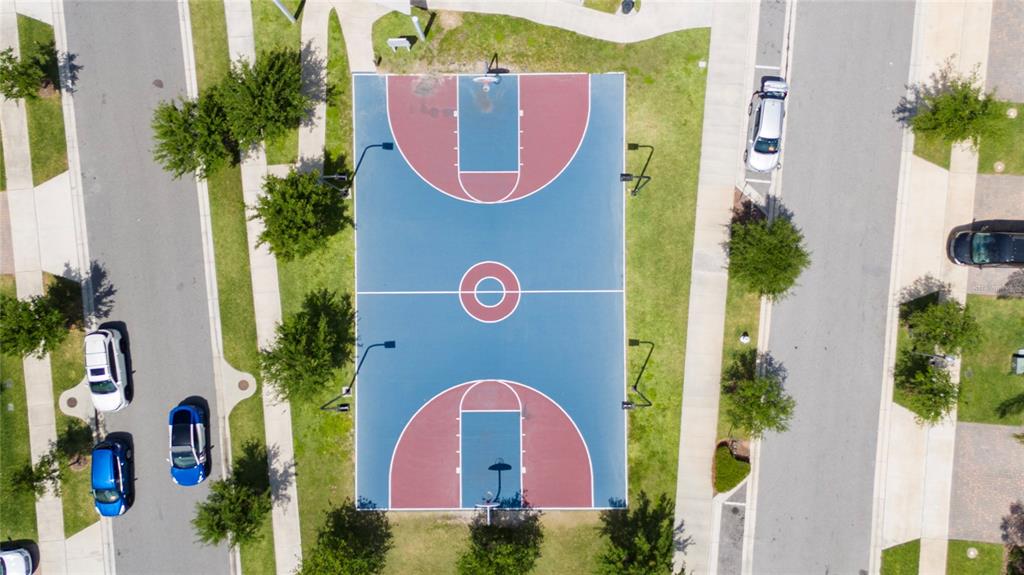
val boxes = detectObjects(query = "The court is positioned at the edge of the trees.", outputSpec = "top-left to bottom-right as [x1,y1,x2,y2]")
[353,72,628,512]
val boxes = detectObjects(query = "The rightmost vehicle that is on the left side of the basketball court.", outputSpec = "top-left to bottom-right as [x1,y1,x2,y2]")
[166,405,207,485]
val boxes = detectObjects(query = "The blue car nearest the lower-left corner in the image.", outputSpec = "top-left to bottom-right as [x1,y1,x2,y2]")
[90,441,132,516]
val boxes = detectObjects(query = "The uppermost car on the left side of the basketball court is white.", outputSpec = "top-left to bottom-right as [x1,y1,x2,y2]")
[84,329,131,411]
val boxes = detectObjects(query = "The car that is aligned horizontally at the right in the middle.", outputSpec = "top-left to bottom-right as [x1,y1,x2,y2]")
[948,231,1024,269]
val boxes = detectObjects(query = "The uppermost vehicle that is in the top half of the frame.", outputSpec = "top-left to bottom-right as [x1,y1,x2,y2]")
[747,82,788,170]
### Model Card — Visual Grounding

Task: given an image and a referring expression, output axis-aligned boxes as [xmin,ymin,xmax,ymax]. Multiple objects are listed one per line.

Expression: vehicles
[747,82,788,170]
[0,549,33,575]
[166,405,207,485]
[90,441,132,516]
[84,329,131,411]
[948,231,1024,269]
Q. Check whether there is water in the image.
No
